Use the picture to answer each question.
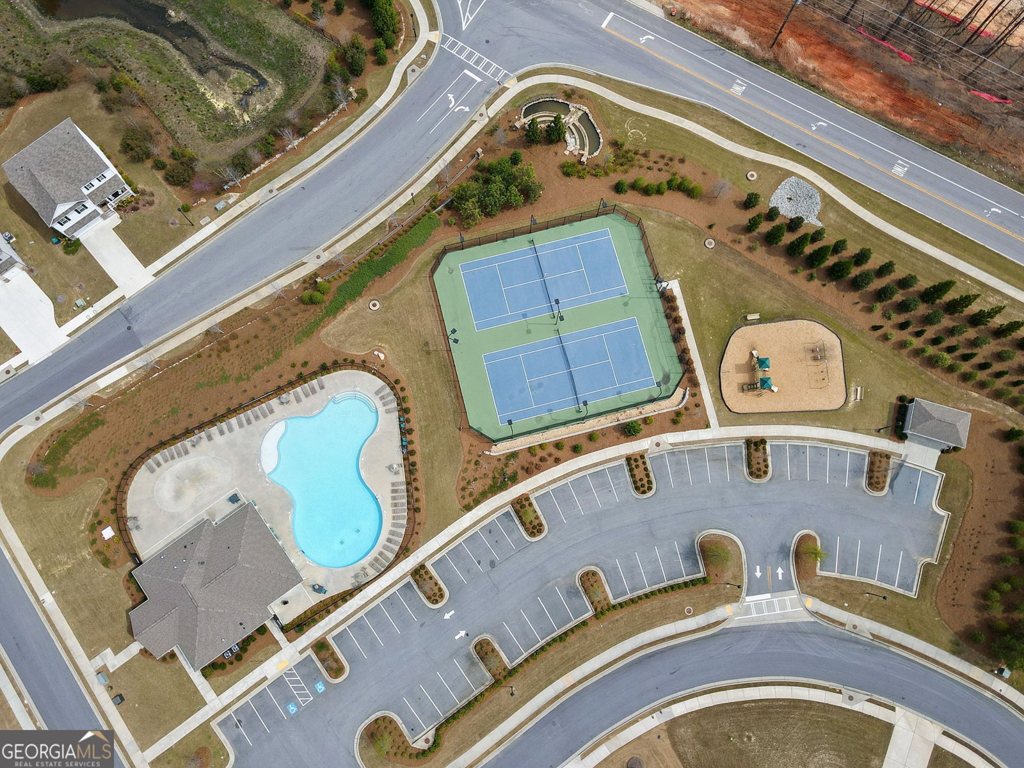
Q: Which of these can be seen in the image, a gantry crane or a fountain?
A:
fountain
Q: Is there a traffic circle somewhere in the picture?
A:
No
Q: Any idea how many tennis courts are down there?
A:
2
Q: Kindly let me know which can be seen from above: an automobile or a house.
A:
house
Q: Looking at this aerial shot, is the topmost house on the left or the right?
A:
left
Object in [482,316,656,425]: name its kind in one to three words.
tennis court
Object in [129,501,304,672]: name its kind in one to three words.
building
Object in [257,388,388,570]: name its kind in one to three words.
swimming pool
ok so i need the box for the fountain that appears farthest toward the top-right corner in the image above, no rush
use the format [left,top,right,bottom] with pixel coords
[520,96,604,158]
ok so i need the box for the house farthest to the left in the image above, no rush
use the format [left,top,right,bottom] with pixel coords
[0,232,28,285]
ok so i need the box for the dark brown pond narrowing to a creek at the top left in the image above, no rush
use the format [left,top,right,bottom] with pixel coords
[35,0,266,83]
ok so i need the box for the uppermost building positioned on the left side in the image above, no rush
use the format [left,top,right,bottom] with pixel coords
[3,117,137,242]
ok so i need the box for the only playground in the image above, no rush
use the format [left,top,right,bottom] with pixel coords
[719,317,850,415]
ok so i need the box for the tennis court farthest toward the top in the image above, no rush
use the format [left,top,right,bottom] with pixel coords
[459,227,629,331]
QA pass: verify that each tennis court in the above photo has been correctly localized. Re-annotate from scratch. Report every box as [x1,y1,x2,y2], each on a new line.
[459,227,629,331]
[482,316,656,425]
